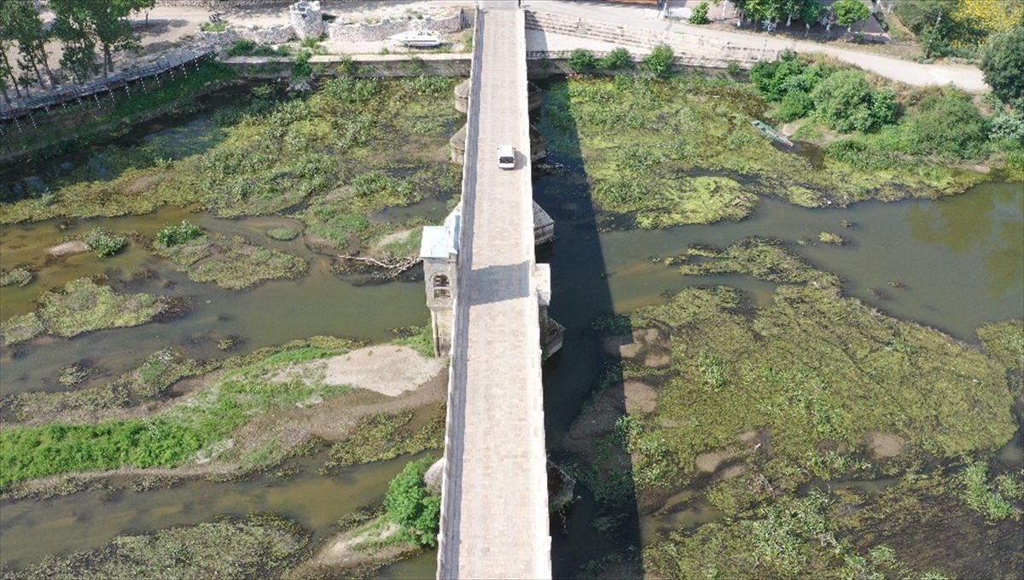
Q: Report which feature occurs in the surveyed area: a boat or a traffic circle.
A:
boat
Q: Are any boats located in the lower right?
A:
No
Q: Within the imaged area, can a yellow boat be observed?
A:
No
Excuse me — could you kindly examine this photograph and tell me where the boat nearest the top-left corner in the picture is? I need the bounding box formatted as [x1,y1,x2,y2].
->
[388,29,446,49]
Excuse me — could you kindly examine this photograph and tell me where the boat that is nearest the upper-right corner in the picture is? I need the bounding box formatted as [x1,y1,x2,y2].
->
[752,118,794,145]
